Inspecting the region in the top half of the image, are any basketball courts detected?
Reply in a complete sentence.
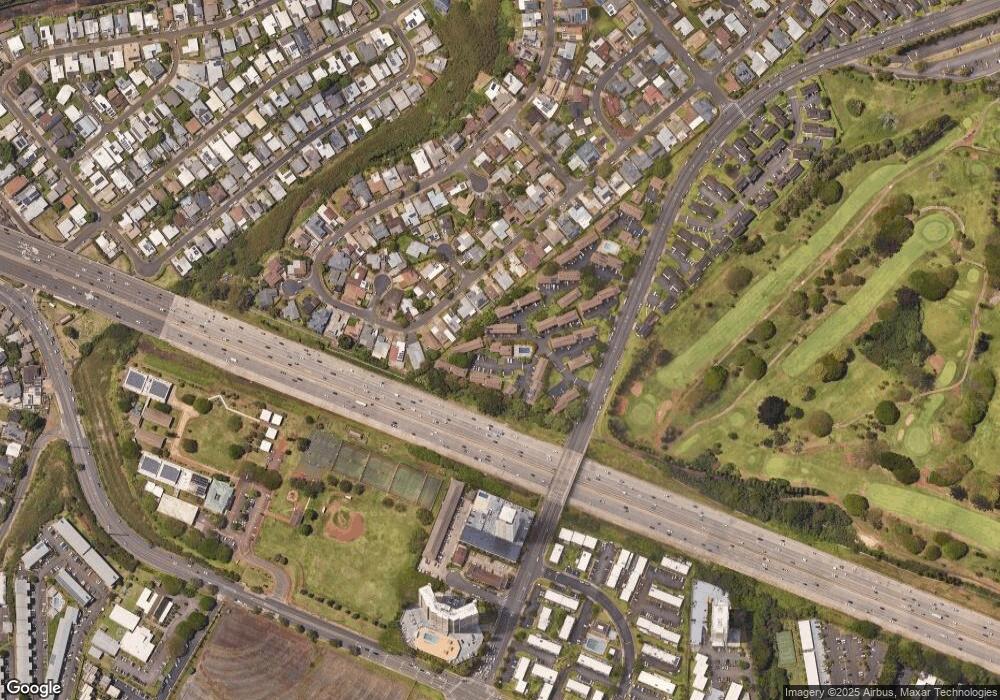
No, there is no basketball court in the top half of the image.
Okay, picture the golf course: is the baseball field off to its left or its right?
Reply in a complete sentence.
The baseball field is to the left of the golf course.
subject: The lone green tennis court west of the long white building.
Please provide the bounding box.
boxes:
[776,630,797,664]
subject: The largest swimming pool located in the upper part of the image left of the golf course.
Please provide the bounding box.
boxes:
[598,238,618,256]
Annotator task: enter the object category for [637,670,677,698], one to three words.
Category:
building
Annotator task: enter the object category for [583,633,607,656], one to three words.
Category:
swimming pool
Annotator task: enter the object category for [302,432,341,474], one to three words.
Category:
basketball court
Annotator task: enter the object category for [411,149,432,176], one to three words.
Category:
house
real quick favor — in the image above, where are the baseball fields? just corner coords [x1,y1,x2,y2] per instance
[325,498,365,542]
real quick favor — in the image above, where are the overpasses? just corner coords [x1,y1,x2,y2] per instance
[538,436,590,514]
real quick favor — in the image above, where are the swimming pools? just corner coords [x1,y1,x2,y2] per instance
[598,238,618,256]
[583,633,607,656]
[424,633,439,644]
[49,593,64,611]
[517,345,531,356]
